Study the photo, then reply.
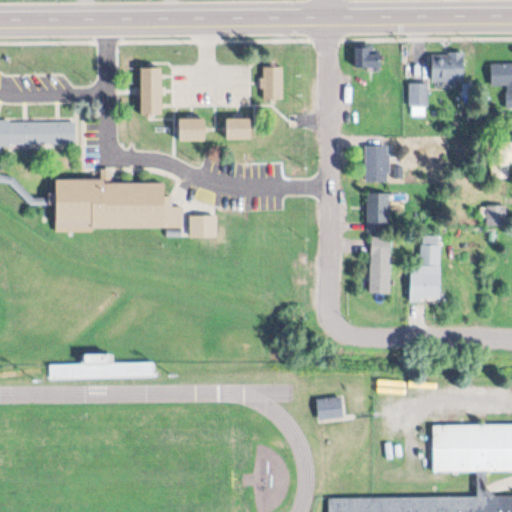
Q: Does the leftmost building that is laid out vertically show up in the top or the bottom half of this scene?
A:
top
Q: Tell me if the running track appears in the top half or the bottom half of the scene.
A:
bottom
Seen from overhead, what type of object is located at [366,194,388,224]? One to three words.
house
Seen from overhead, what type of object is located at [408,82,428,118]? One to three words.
building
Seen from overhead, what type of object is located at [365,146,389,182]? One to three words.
house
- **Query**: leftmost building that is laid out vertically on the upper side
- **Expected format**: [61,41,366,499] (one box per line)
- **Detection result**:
[140,67,162,115]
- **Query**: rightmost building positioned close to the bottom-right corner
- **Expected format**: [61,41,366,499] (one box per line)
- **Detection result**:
[432,424,512,475]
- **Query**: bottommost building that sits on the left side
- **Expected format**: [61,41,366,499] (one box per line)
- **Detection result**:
[190,214,218,239]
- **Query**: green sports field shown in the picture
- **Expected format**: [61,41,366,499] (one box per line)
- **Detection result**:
[0,406,241,512]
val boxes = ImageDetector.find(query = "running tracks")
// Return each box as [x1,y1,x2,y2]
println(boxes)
[0,386,315,512]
